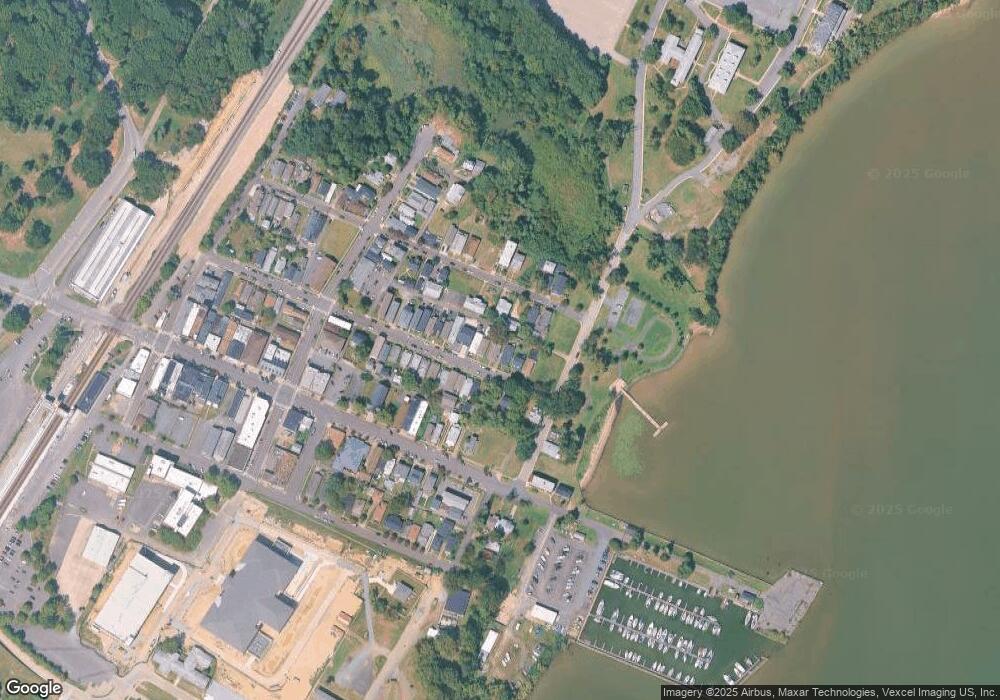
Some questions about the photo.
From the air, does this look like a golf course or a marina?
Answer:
marina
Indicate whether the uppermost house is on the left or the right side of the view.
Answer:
right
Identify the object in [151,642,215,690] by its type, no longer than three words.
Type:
building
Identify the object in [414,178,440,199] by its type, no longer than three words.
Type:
house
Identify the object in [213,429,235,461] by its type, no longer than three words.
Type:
house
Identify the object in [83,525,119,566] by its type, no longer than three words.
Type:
building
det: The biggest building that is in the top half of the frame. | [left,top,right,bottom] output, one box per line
[71,197,152,302]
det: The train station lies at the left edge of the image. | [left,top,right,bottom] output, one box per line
[0,373,107,523]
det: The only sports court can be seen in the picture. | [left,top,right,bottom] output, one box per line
[619,294,648,330]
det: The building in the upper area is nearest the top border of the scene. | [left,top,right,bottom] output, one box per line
[812,4,848,52]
